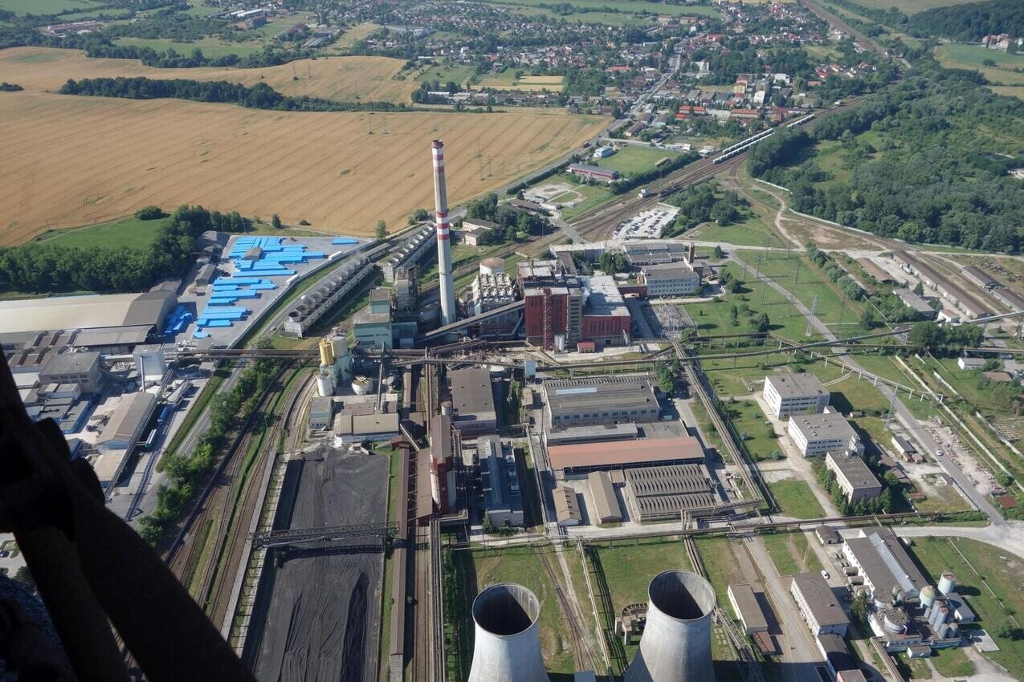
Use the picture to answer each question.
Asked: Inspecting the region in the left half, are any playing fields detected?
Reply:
No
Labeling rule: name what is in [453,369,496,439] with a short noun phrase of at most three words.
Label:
building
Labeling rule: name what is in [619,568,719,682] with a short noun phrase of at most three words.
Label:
cooling tower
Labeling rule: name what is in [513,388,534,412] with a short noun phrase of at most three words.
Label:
shed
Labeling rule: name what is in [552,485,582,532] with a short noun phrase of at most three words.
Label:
building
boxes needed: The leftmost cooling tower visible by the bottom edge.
[467,582,549,682]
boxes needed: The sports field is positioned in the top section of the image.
[598,145,681,175]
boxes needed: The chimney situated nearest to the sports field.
[430,141,456,333]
